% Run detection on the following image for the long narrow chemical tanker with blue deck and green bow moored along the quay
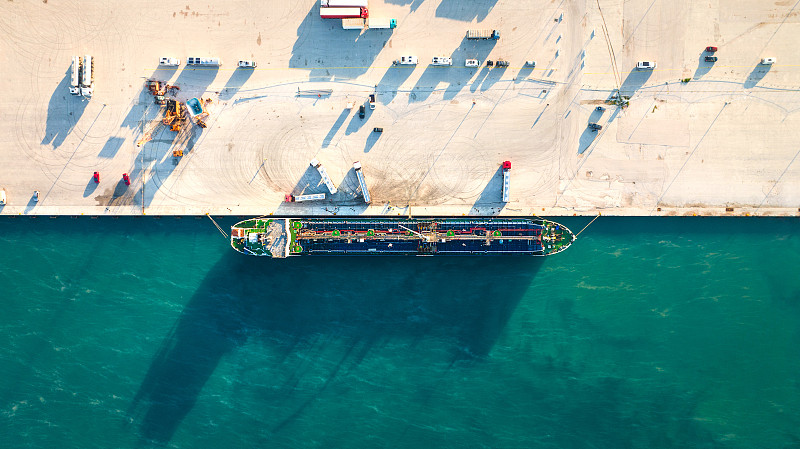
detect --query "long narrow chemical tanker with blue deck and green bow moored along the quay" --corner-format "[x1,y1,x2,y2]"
[229,218,577,257]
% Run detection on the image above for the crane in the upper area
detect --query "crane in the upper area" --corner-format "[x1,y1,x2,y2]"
[135,98,190,147]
